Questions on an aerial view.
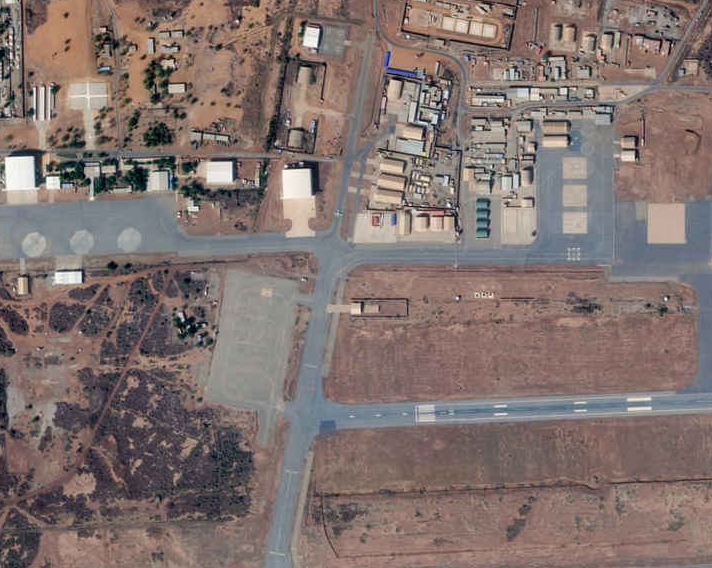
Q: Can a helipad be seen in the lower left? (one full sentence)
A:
No, I see no helipad in the lower left.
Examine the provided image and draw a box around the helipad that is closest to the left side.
[22,232,46,257]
